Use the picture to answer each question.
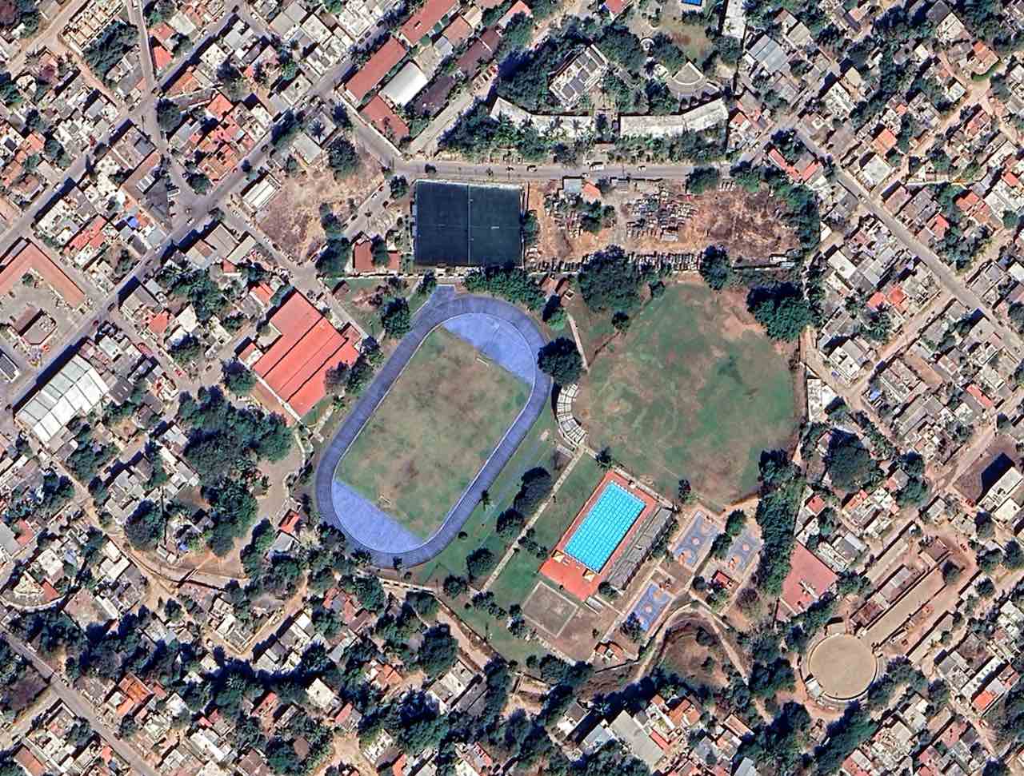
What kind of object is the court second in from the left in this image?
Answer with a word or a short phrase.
basketball court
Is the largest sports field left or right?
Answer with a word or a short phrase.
right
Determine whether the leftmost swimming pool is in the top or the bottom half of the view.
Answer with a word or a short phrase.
bottom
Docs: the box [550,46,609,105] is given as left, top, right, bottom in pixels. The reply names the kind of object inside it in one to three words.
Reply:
building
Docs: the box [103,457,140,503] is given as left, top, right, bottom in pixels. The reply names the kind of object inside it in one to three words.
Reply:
house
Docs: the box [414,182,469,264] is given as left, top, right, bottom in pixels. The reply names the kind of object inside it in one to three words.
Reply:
sports field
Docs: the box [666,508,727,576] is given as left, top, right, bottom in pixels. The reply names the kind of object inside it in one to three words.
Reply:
basketball court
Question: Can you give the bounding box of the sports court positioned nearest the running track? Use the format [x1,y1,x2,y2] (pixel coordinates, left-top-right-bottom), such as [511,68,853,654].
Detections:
[522,581,580,638]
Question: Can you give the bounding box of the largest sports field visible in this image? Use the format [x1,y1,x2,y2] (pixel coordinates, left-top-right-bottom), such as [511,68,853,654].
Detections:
[576,279,800,506]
